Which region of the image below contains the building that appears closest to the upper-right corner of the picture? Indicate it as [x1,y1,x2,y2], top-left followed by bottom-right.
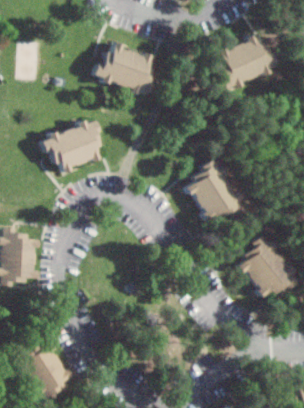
[220,38,274,89]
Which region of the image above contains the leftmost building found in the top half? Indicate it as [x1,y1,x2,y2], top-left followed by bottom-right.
[42,121,105,170]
